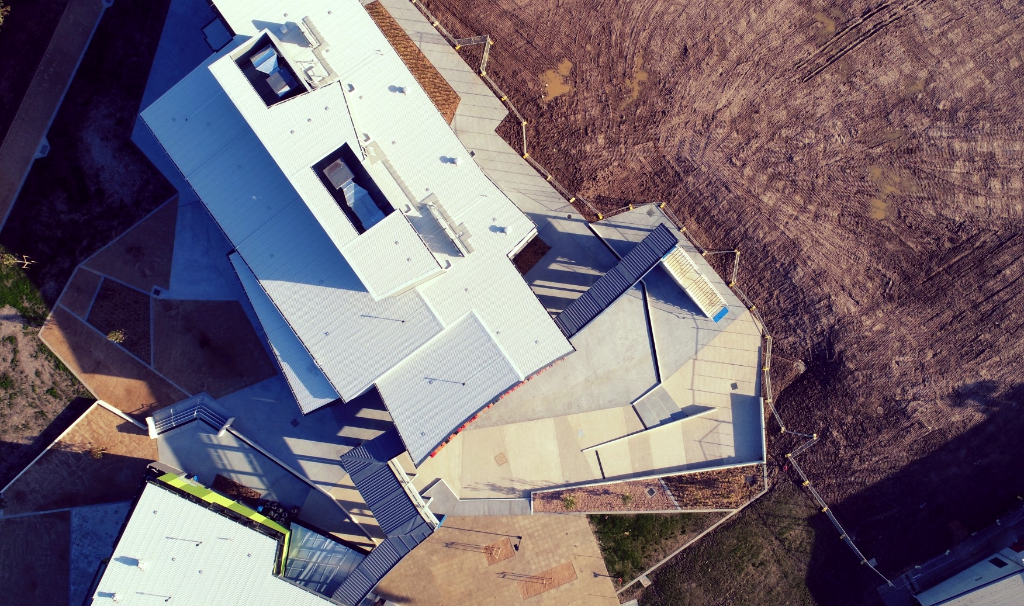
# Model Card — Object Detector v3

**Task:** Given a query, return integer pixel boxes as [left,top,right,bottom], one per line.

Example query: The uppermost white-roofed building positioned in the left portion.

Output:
[139,0,577,466]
